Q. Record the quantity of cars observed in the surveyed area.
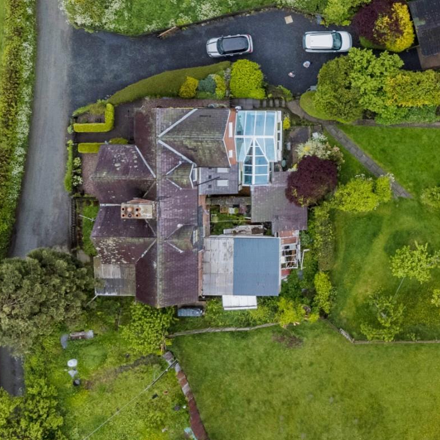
2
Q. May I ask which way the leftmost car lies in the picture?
horizontally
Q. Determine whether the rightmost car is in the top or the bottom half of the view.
top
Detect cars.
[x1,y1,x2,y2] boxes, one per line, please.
[207,34,255,58]
[304,30,352,53]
